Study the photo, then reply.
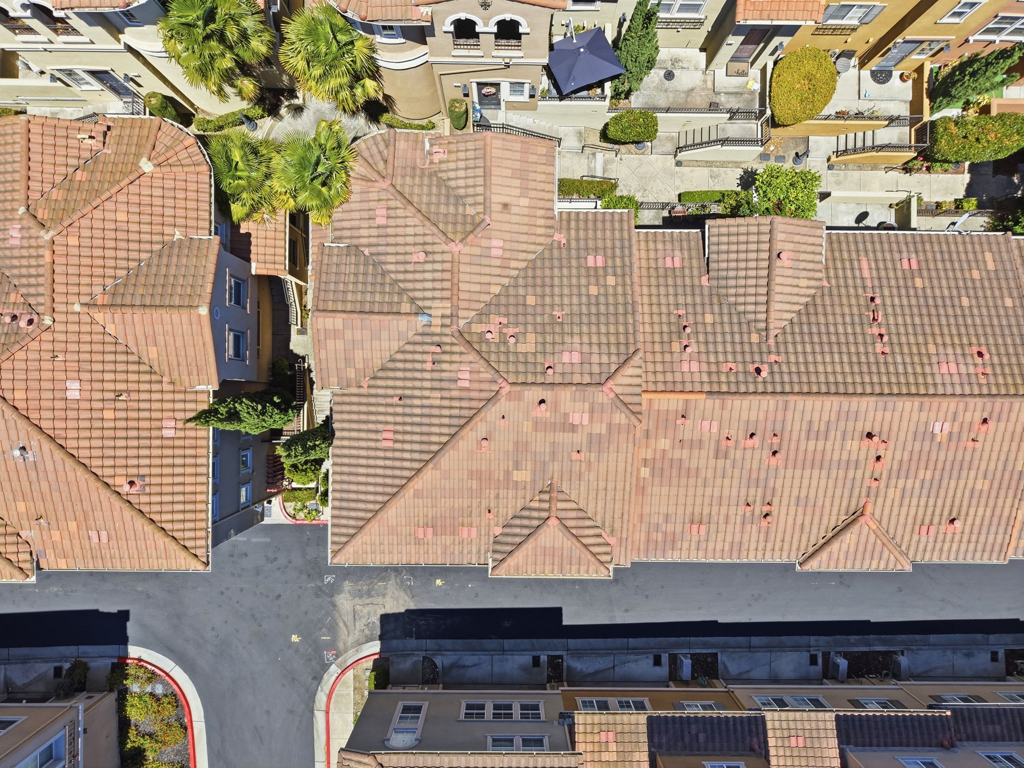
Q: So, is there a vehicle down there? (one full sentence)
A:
No, the photo shows no vehicle.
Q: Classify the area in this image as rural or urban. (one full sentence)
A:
It looks urban.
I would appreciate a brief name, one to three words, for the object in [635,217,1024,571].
house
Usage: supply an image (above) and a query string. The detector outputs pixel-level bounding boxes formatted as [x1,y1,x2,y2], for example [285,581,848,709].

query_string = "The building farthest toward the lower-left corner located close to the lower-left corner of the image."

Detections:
[0,692,117,768]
